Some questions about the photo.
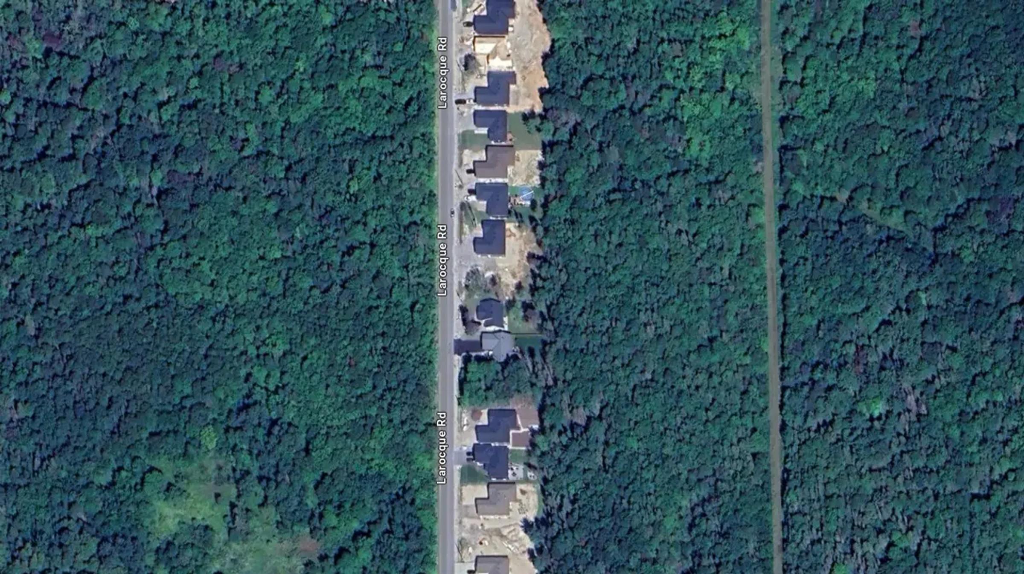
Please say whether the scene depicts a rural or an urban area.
rural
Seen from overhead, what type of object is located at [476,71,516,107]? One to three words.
house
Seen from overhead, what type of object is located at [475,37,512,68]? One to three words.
house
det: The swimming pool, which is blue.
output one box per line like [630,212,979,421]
[519,188,534,203]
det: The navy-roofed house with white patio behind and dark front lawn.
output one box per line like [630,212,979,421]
[474,445,508,480]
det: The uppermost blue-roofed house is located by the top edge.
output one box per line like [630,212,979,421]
[474,0,515,35]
